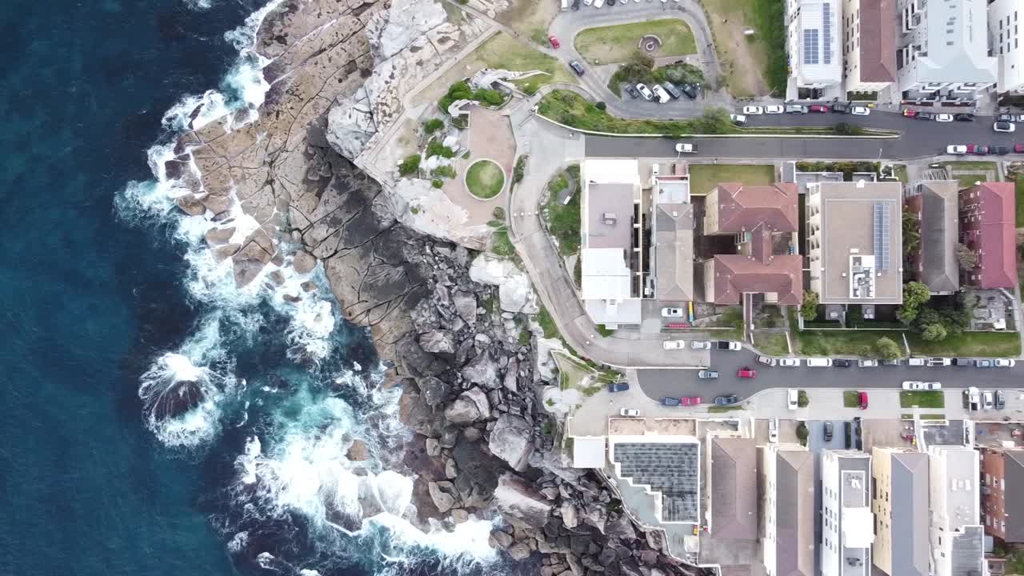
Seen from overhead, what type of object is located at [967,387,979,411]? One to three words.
vehicle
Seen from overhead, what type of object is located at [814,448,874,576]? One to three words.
building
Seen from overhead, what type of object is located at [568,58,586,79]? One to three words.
car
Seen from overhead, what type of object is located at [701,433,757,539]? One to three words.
house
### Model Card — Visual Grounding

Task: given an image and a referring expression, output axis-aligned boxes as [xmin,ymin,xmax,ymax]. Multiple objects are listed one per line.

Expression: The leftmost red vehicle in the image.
[548,33,561,52]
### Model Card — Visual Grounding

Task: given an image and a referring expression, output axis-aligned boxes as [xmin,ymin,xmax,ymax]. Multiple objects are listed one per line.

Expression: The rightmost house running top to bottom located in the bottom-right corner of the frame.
[982,444,1024,543]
